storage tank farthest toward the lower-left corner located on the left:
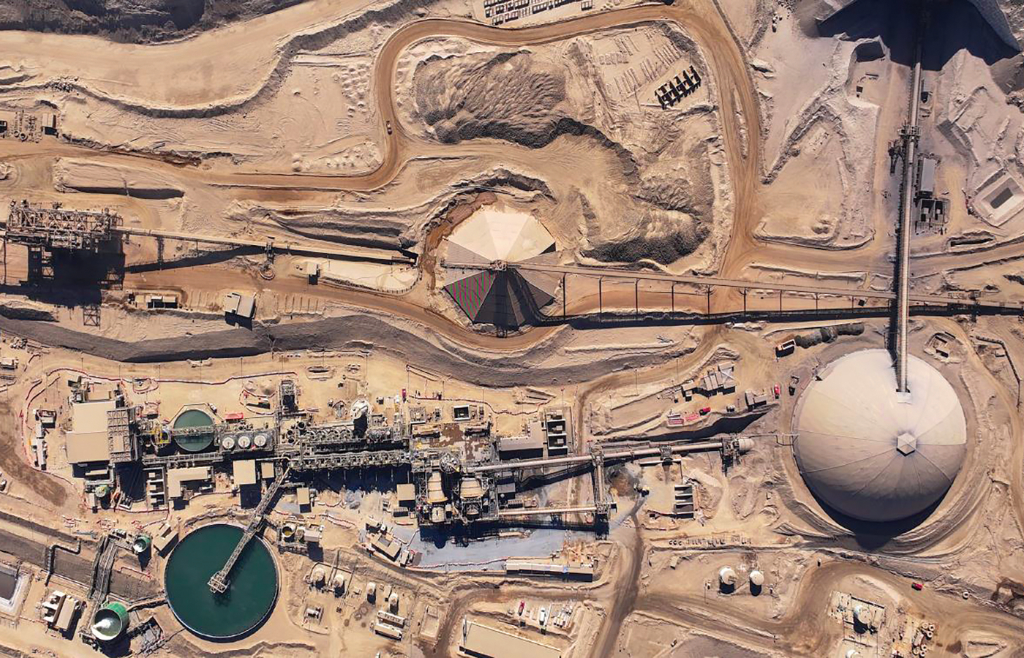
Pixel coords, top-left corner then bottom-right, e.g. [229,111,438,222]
[94,604,132,640]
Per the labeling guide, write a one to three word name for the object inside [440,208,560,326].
building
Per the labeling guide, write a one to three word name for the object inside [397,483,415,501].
building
